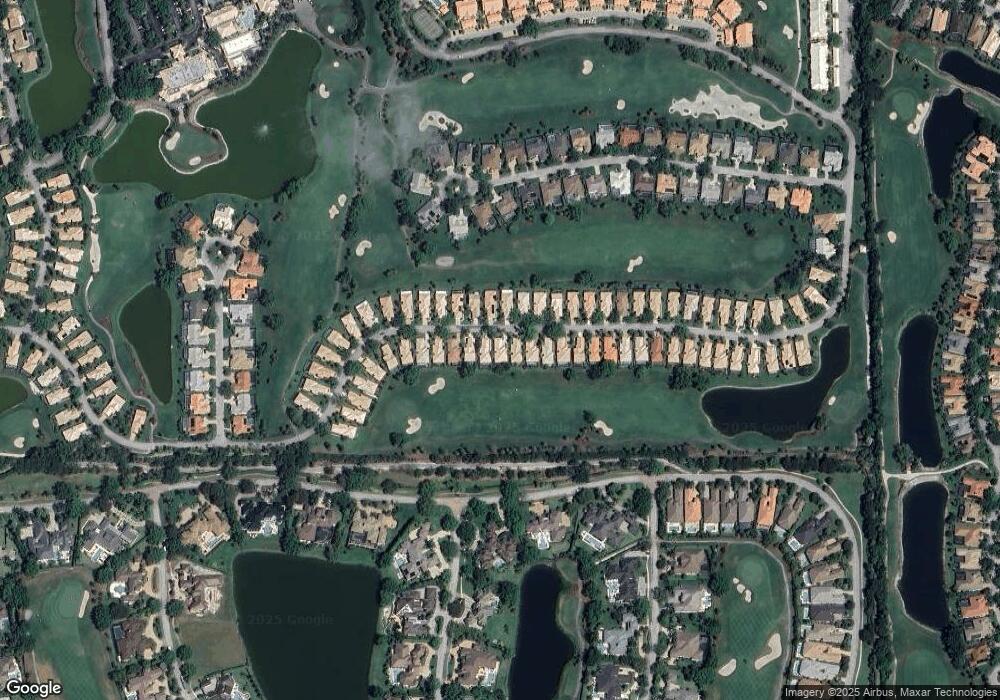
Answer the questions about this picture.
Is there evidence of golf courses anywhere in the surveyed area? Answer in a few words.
Yes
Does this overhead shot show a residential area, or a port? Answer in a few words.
residential area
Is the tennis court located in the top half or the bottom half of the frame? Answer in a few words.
top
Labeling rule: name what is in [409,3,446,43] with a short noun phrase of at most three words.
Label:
tennis court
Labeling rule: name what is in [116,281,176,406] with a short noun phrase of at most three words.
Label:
pond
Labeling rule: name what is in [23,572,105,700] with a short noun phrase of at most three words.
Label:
golf course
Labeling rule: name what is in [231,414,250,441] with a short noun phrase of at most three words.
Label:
house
